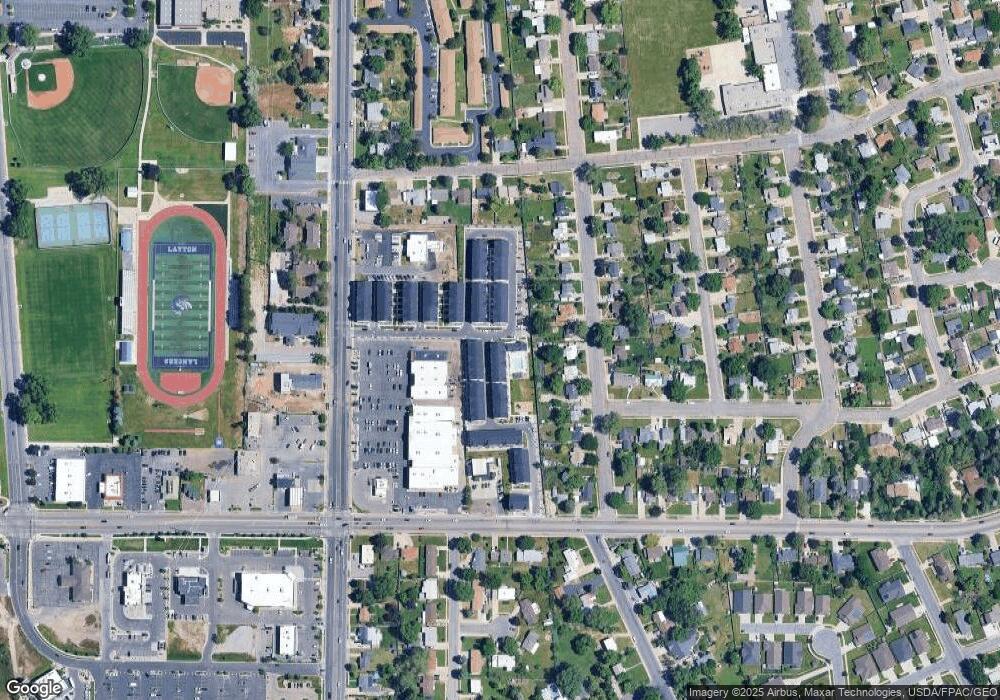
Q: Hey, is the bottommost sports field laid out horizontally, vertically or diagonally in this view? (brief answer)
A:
vertically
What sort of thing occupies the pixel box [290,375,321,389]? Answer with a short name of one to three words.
building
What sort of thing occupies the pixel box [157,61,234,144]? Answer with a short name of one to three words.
baseball field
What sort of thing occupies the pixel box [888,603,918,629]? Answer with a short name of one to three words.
house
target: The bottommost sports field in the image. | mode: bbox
[148,216,216,397]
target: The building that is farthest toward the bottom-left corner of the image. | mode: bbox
[21,670,69,700]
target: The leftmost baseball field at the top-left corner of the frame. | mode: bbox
[13,49,143,167]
